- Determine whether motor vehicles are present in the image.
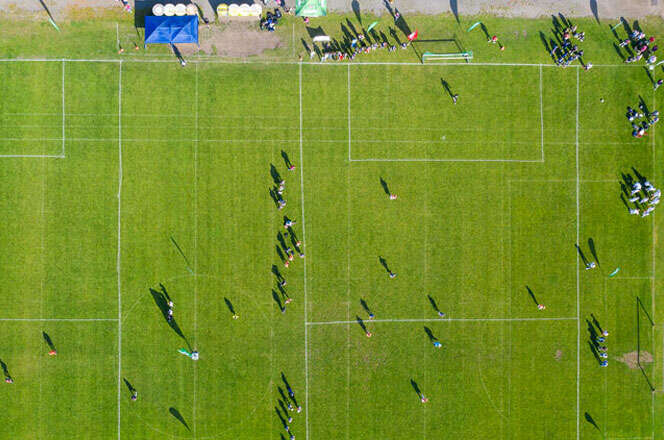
No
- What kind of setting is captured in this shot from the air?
sports ground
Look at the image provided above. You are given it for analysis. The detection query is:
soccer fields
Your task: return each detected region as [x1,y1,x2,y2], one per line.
[0,60,653,440]
[300,62,578,440]
[0,60,120,440]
